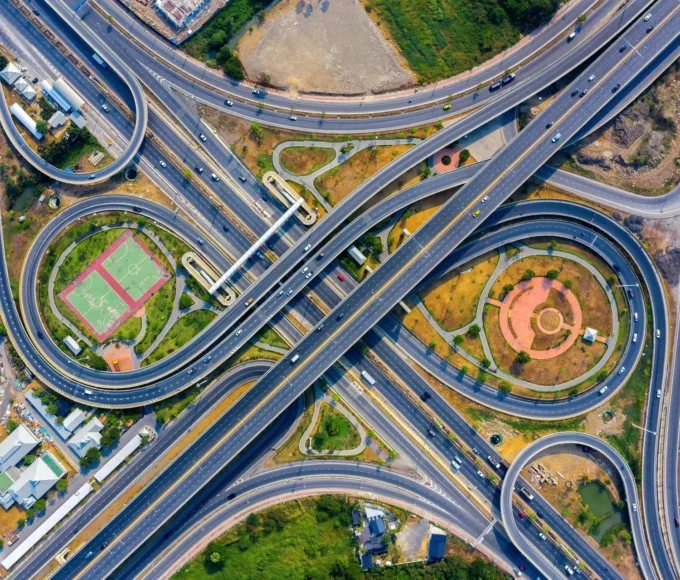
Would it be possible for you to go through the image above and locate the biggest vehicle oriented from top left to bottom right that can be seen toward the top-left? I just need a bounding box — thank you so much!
[89,50,107,67]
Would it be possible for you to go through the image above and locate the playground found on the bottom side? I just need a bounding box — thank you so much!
[104,344,134,371]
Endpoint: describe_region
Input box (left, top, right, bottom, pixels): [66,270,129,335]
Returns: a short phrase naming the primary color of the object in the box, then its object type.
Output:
green sports court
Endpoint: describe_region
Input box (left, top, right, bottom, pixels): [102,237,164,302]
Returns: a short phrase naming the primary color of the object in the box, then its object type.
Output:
green sports court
